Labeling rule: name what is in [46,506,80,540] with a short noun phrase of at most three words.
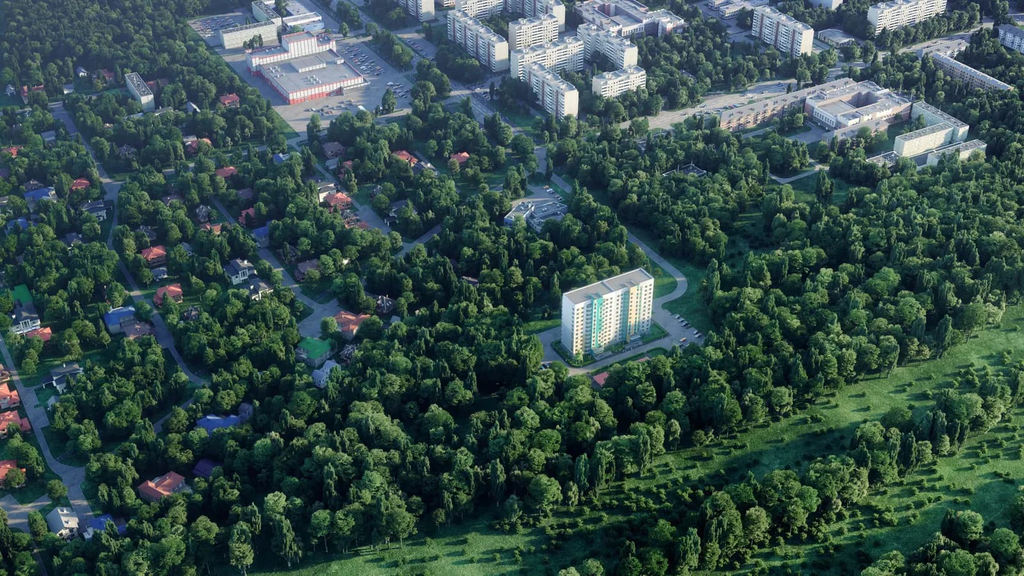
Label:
house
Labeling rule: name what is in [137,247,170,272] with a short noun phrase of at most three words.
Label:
house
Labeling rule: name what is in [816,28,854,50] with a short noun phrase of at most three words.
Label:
building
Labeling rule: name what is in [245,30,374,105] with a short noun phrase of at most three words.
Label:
building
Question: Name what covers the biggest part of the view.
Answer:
trees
